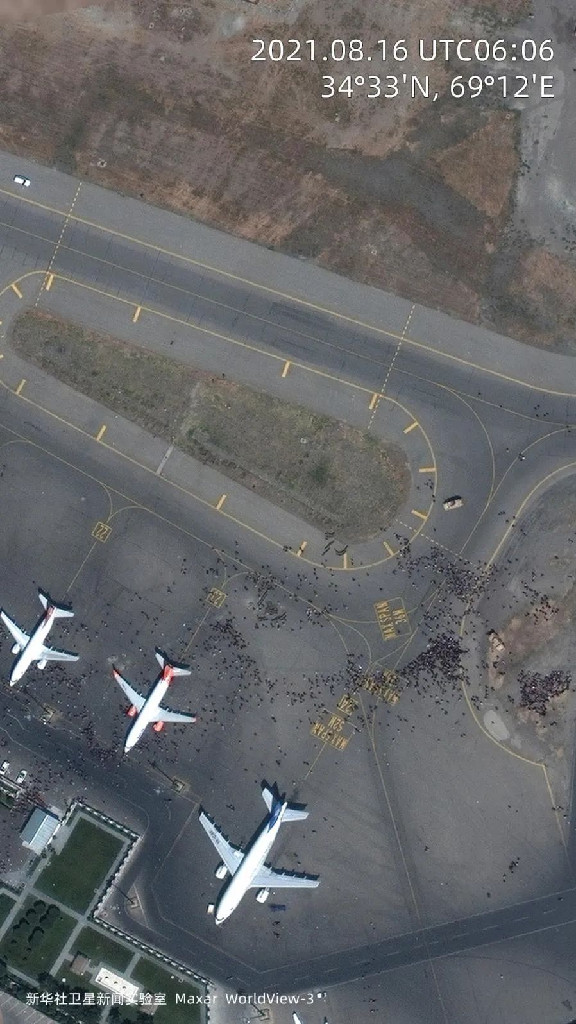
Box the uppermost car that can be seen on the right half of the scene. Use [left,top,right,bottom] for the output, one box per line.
[444,496,463,509]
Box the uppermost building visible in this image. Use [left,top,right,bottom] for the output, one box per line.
[20,807,63,854]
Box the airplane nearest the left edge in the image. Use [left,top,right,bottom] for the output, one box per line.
[2,594,77,686]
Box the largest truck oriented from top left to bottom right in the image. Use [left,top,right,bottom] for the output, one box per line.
[487,630,509,655]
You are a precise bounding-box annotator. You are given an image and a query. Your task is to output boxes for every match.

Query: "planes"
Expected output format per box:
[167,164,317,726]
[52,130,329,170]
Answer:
[2,594,77,686]
[199,787,319,922]
[113,653,196,752]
